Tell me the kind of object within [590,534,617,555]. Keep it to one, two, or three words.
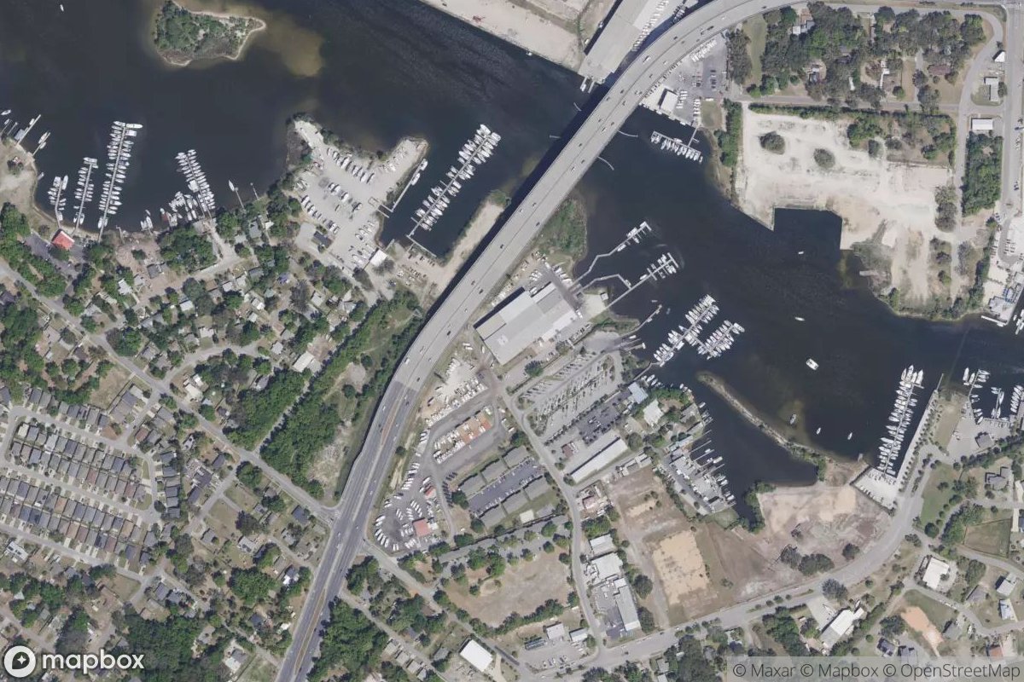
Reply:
building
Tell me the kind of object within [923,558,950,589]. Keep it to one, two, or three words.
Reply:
house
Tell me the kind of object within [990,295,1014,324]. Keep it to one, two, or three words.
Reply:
building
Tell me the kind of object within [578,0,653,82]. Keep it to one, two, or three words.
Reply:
shed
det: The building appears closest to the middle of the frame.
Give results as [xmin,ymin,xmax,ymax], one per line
[476,283,576,365]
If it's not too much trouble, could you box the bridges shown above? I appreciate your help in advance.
[394,0,806,388]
